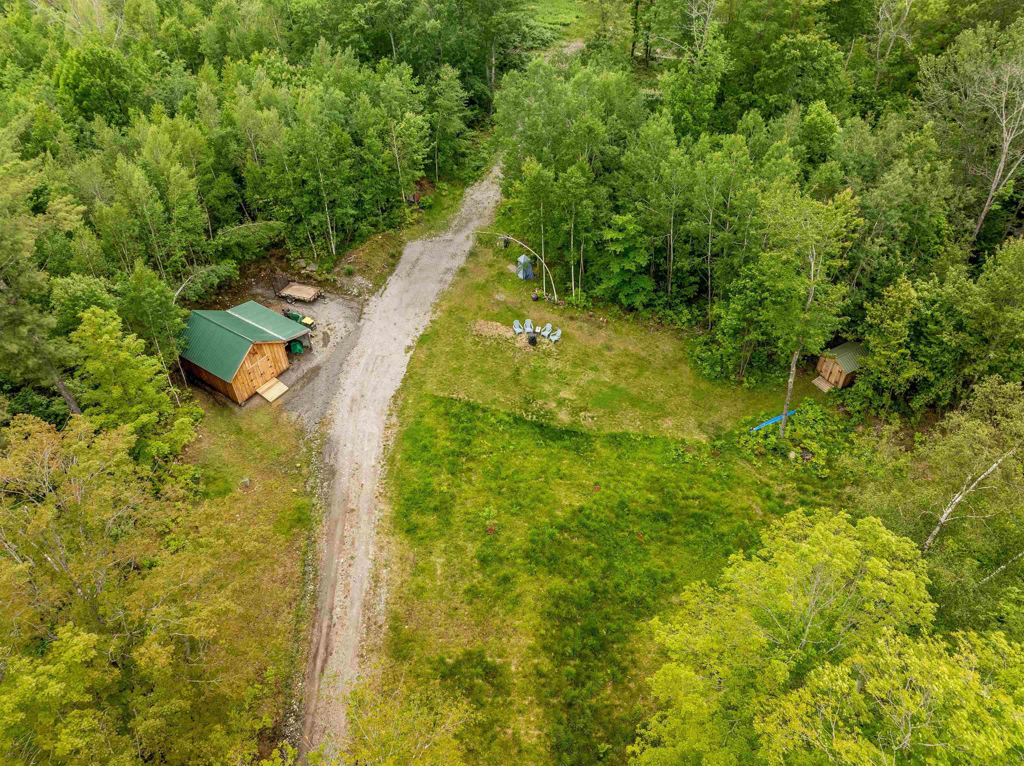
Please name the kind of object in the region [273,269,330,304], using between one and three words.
trailer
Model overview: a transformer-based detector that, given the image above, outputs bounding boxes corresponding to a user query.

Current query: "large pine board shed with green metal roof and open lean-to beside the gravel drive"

[167,301,307,404]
